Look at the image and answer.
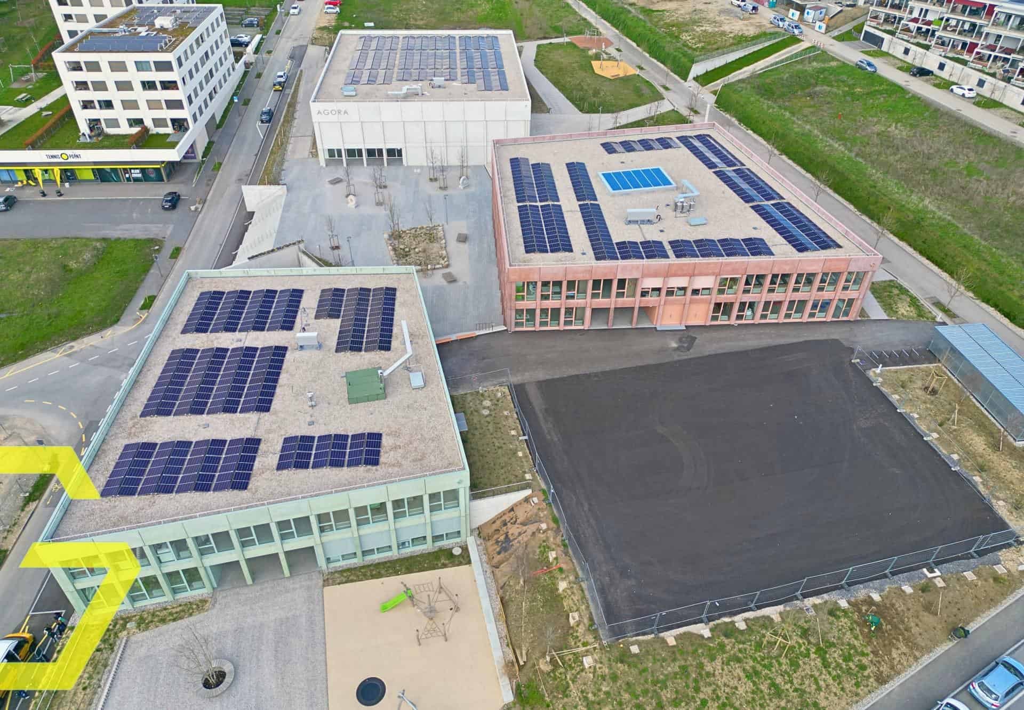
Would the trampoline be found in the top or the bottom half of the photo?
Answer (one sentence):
The trampoline is in the bottom half of the image.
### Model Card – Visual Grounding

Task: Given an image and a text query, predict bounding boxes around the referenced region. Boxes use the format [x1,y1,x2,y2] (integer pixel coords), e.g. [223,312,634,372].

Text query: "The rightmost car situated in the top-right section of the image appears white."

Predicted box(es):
[951,86,976,98]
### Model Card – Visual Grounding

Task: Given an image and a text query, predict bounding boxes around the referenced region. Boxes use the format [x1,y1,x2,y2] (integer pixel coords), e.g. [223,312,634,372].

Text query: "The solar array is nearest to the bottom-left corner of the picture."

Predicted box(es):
[100,437,262,499]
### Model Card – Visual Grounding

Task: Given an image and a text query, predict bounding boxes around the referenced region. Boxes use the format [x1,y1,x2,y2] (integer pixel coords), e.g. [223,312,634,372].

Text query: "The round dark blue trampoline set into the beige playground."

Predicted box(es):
[351,673,391,710]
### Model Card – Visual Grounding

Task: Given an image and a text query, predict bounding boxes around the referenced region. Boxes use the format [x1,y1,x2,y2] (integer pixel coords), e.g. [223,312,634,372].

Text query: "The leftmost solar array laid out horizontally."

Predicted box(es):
[73,37,168,52]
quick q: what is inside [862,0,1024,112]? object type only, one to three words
house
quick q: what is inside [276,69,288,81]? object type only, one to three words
vehicle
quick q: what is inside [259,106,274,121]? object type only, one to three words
car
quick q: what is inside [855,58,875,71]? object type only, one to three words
vehicle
